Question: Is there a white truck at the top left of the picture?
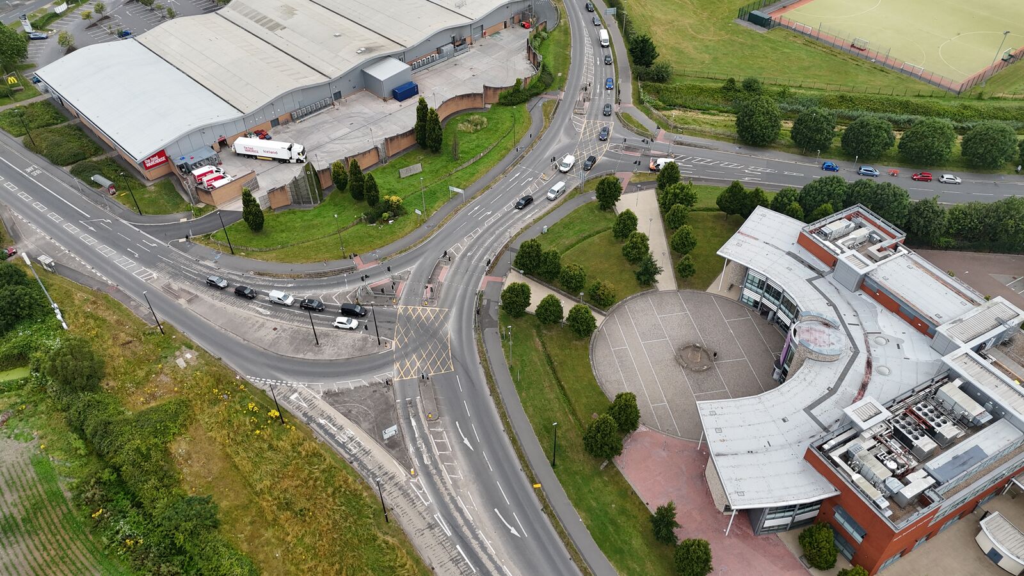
Yes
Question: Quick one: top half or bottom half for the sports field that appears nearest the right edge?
top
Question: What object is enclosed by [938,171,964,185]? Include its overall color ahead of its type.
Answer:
gray car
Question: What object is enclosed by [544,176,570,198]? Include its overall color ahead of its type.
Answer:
white vehicle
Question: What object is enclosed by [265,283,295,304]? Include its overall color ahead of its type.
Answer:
white vehicle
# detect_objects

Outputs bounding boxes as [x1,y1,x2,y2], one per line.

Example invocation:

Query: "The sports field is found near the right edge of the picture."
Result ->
[783,0,1024,84]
